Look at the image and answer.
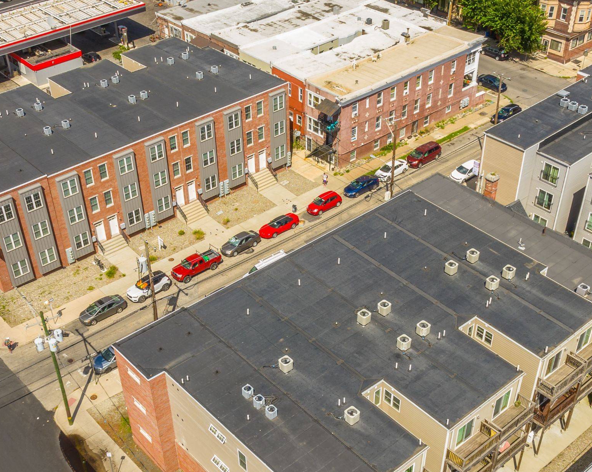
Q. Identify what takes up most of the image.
buildings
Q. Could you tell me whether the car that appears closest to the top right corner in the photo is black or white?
black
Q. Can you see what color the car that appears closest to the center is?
red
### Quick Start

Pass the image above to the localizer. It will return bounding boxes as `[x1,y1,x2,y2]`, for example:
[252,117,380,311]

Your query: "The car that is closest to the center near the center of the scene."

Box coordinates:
[258,214,302,242]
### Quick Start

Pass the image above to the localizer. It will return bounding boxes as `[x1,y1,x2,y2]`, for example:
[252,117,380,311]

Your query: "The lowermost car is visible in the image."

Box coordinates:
[81,348,116,383]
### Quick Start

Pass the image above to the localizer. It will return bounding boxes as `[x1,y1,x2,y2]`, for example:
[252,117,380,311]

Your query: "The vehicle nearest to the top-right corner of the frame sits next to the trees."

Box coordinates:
[479,43,511,63]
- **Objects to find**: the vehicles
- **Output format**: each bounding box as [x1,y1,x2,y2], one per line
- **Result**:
[78,294,131,328]
[84,51,106,64]
[81,348,116,383]
[479,43,511,63]
[233,236,287,278]
[448,160,477,184]
[342,175,382,200]
[475,76,511,94]
[258,214,302,242]
[305,190,344,217]
[491,100,522,122]
[373,160,411,184]
[168,244,224,287]
[218,230,263,260]
[404,139,445,169]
